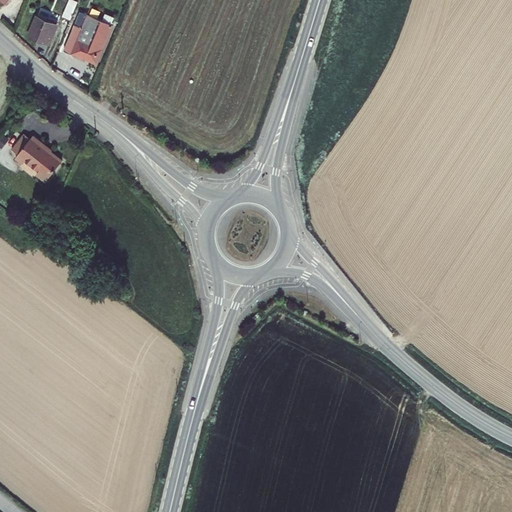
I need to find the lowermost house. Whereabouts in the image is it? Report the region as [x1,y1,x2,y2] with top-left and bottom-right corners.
[12,134,60,182]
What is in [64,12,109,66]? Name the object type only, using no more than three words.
house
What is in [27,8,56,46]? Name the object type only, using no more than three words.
house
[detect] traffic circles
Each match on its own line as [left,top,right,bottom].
[188,166,308,300]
